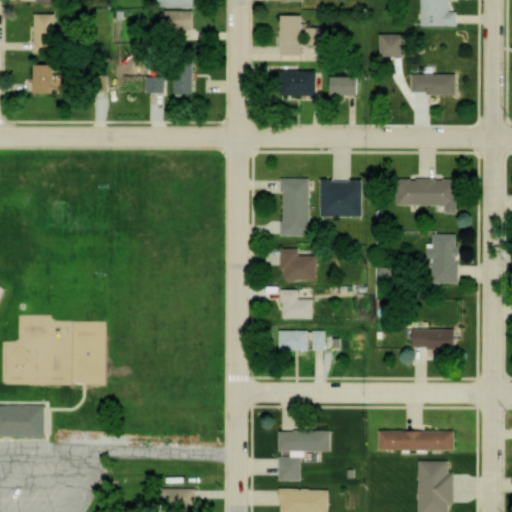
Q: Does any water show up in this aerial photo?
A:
No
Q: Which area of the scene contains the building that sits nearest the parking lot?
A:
bottom left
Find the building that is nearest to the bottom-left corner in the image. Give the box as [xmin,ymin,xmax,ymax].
[0,406,44,438]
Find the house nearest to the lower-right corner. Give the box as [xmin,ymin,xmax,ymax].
[418,462,454,512]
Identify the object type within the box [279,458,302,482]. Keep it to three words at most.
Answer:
building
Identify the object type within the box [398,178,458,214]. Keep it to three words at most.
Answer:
house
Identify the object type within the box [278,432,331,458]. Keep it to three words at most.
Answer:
house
